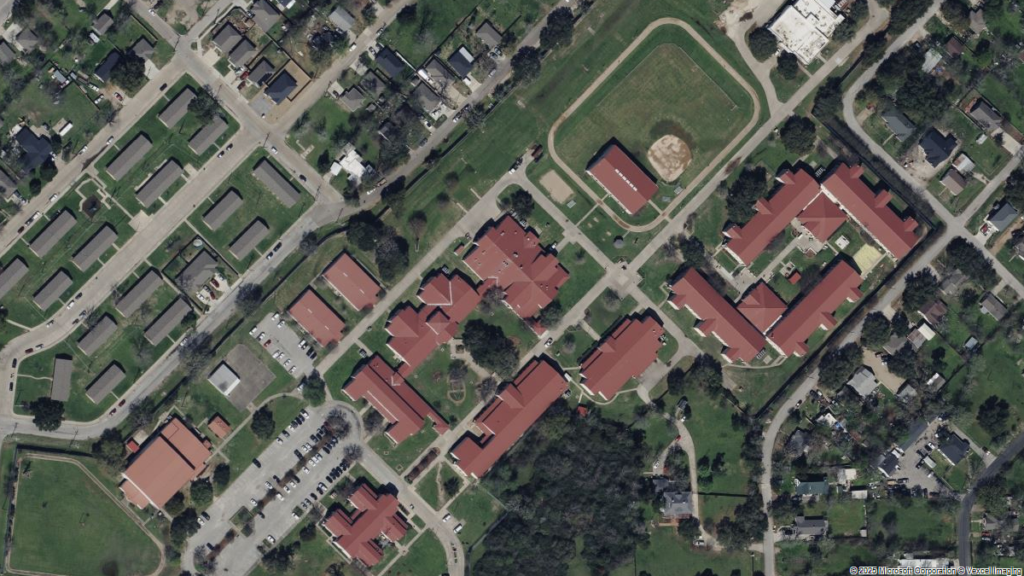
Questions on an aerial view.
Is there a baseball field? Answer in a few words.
Yes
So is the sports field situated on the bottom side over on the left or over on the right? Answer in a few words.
left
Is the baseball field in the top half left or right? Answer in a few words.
right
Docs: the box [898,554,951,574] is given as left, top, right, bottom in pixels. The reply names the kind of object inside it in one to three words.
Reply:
barn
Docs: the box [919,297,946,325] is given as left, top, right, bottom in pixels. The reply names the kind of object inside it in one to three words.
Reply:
house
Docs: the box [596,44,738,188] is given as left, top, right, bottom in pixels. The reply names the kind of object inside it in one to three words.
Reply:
baseball field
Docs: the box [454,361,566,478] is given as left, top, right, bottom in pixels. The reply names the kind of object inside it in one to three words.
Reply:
building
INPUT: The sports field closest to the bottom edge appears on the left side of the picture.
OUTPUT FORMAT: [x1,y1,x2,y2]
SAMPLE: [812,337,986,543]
[11,457,161,576]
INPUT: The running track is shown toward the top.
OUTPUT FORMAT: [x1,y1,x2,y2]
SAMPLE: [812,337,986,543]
[546,17,761,232]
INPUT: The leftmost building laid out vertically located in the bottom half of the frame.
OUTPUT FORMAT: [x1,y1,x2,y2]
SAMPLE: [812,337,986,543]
[50,357,71,401]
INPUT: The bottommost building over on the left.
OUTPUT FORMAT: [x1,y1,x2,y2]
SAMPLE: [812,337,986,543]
[324,484,407,567]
